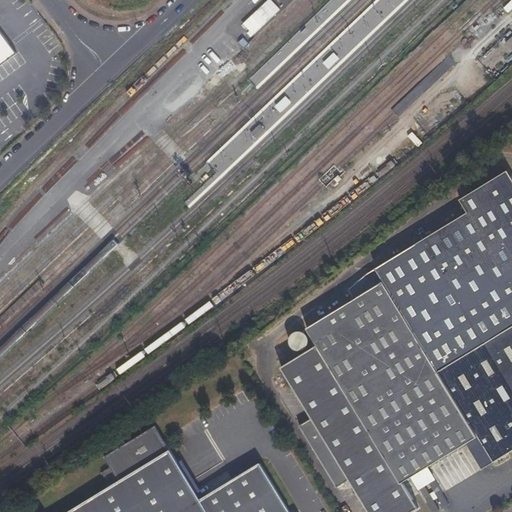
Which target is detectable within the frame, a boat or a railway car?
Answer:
railway car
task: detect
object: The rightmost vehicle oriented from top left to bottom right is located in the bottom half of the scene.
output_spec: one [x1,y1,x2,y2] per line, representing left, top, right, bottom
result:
[424,483,439,502]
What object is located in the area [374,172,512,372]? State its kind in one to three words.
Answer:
building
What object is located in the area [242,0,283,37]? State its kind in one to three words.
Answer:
shed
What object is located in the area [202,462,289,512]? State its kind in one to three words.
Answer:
building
